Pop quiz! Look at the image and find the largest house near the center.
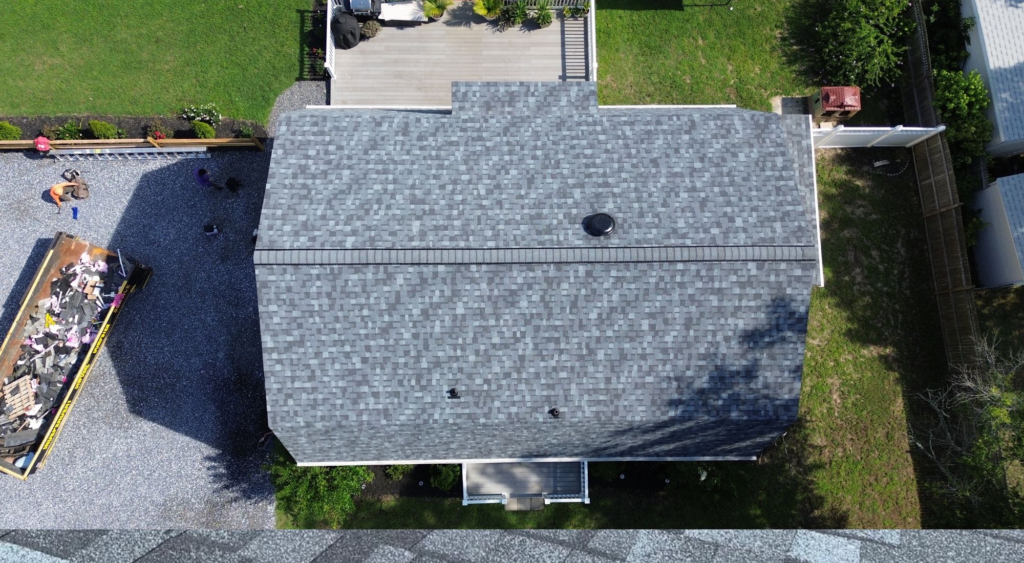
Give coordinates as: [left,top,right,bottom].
[251,79,825,470]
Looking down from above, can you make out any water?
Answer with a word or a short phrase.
No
